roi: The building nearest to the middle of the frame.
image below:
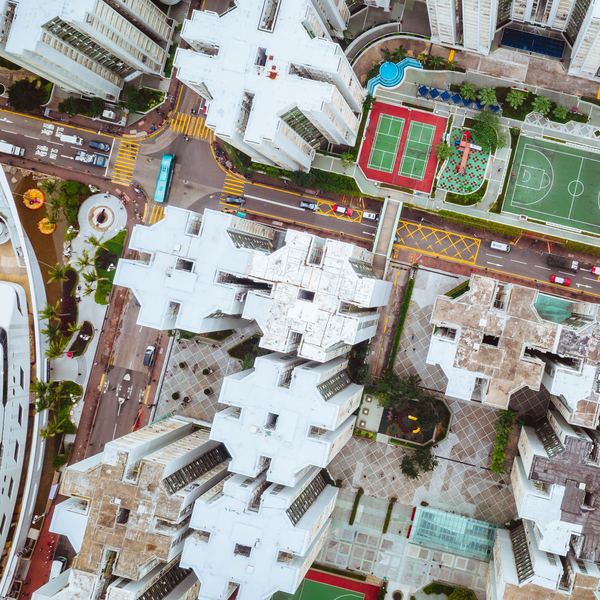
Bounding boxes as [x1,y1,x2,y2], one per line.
[239,231,394,365]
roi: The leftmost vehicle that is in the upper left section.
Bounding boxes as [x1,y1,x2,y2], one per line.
[0,141,28,158]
